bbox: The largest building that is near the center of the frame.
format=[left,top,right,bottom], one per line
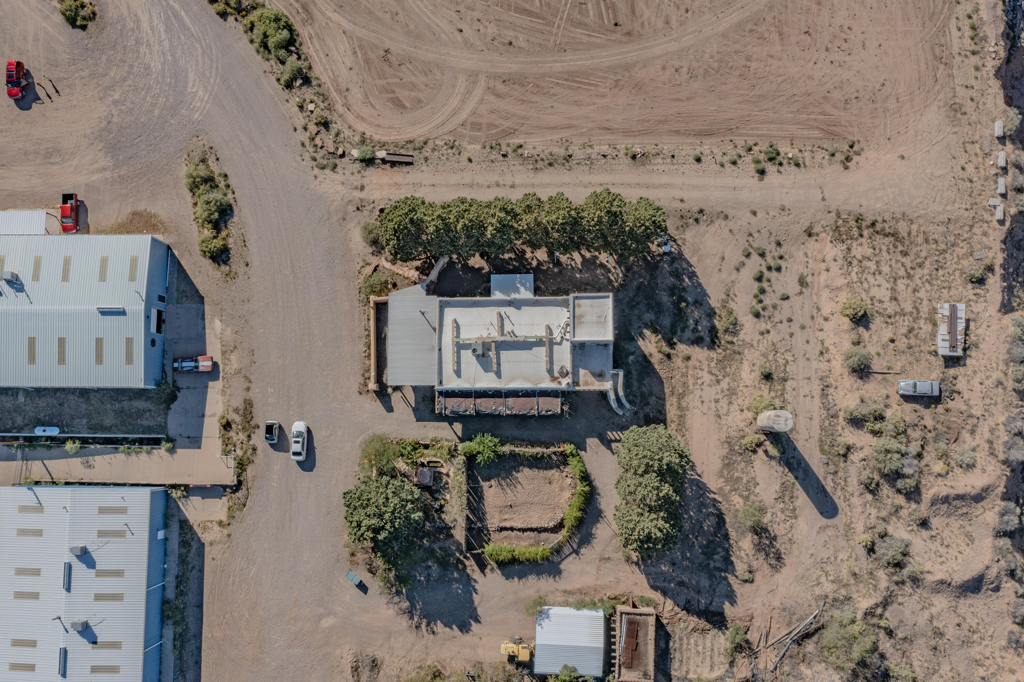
[437,290,613,392]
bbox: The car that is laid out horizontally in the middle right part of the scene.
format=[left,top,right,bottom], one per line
[899,379,941,398]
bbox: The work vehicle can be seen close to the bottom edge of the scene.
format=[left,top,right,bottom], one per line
[497,638,533,662]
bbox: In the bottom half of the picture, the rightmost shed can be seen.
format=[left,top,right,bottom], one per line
[610,596,655,682]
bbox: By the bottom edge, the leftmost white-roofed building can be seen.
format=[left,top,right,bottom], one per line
[0,484,168,682]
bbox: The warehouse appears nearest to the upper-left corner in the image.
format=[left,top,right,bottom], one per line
[0,233,168,391]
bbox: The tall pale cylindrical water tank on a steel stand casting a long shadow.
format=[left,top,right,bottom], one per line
[748,409,794,434]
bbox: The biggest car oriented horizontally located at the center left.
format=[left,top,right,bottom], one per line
[171,354,212,373]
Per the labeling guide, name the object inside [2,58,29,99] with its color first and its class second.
red car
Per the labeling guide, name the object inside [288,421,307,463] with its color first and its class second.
white car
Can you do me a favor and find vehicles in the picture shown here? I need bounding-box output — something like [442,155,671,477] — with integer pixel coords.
[171,354,212,373]
[262,421,280,444]
[288,421,307,463]
[899,379,941,398]
[497,638,533,662]
[56,190,80,233]
[2,58,29,99]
